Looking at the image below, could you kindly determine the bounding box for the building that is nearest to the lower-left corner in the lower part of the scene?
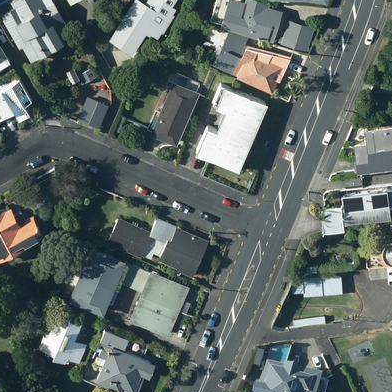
[38,323,87,365]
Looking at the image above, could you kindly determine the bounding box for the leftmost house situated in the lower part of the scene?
[0,208,38,262]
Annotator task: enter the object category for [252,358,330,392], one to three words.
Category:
house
